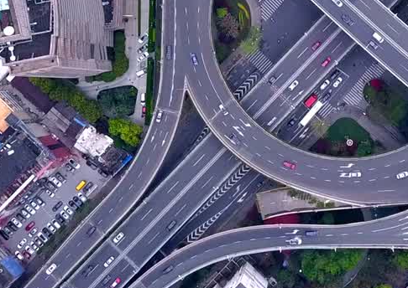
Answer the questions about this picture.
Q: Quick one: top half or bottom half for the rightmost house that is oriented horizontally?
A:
bottom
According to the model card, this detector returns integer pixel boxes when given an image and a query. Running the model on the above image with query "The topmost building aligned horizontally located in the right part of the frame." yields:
[257,184,344,225]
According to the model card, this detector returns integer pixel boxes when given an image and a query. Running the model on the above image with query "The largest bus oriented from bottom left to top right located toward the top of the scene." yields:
[298,99,324,128]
